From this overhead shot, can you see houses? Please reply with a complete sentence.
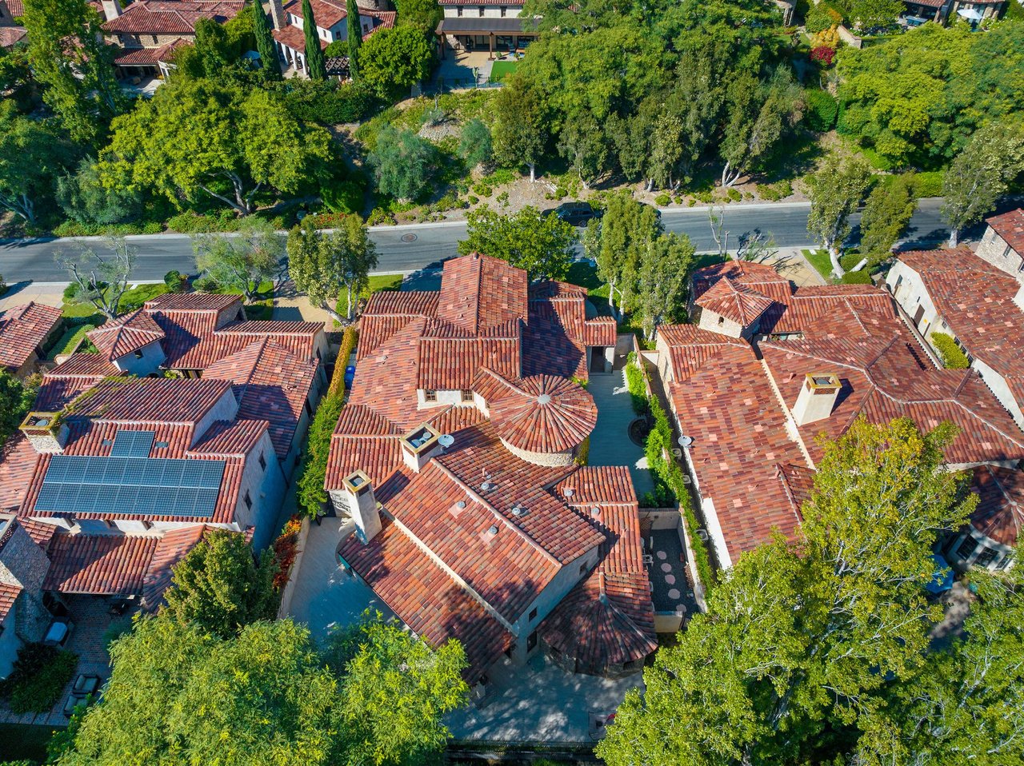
Yes, you can see a house in this photo.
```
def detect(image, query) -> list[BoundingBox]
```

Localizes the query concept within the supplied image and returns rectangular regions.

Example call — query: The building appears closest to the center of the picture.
[324,252,661,703]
